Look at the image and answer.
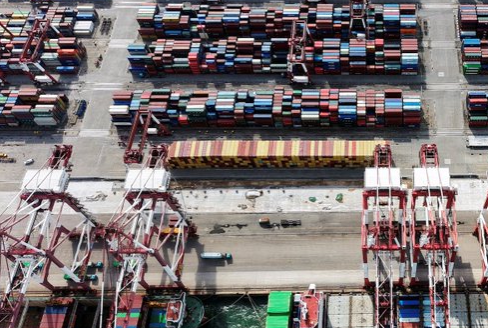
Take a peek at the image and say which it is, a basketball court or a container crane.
container crane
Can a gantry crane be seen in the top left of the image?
Yes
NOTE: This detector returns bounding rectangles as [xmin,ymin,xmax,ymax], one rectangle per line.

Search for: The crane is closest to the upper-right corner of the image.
[346,0,372,45]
